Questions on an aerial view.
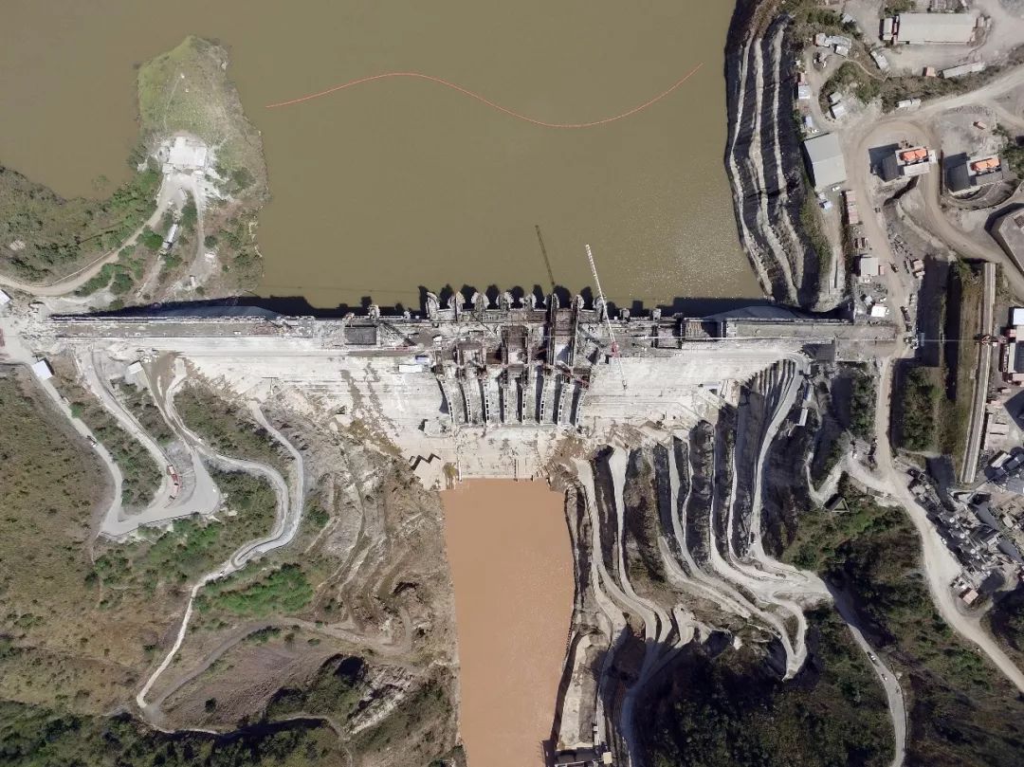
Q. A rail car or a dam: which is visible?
dam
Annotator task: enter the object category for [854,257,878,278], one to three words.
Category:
building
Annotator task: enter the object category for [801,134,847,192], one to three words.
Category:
shed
